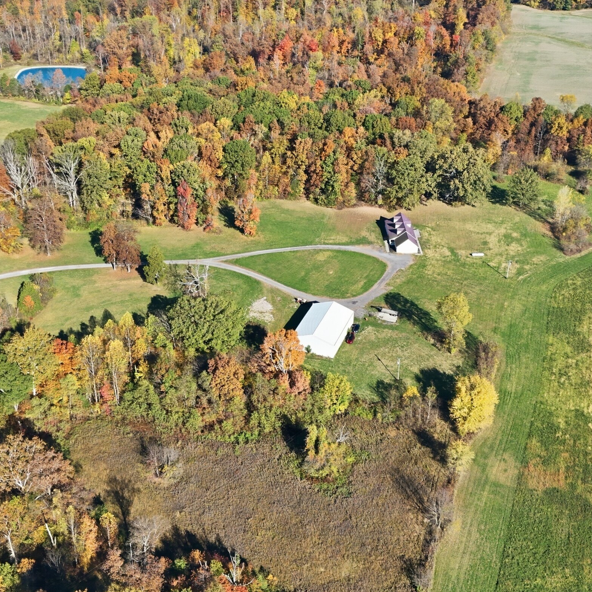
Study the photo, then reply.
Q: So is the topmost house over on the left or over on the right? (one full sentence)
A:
The topmost house appears in the right half of the scene.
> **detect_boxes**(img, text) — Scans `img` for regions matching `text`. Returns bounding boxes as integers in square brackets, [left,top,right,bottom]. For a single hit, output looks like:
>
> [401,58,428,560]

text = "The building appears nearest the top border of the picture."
[383,211,419,253]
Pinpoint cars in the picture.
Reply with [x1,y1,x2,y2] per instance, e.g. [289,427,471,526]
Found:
[346,332,356,343]
[351,322,360,332]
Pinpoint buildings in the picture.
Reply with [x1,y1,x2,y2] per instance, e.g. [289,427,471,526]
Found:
[294,299,355,358]
[383,211,419,253]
